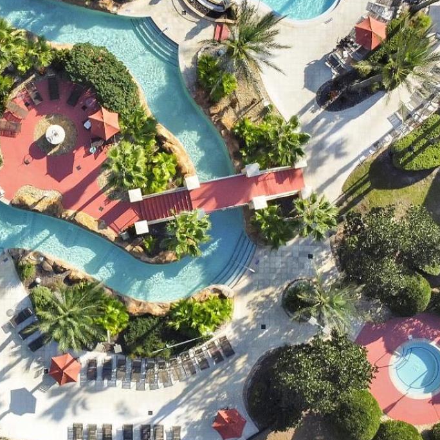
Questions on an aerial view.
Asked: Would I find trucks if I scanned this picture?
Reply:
No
